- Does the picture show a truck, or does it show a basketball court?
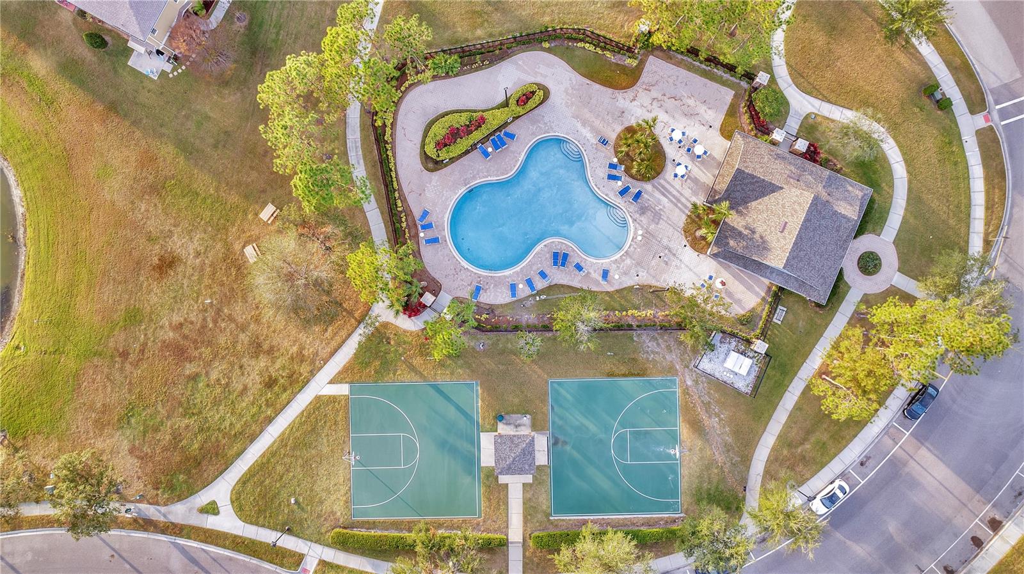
basketball court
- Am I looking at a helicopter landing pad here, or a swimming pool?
swimming pool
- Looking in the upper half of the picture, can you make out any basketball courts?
No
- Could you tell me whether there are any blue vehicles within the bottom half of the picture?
Yes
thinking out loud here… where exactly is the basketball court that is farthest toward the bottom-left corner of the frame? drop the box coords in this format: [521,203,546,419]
[349,382,482,520]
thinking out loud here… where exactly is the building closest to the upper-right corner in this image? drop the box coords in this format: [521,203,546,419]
[698,130,873,304]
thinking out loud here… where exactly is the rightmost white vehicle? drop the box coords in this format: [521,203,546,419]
[811,479,852,517]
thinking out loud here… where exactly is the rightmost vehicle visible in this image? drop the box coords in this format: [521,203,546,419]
[905,380,942,422]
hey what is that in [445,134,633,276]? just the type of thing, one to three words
swimming pool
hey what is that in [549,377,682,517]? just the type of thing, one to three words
basketball court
